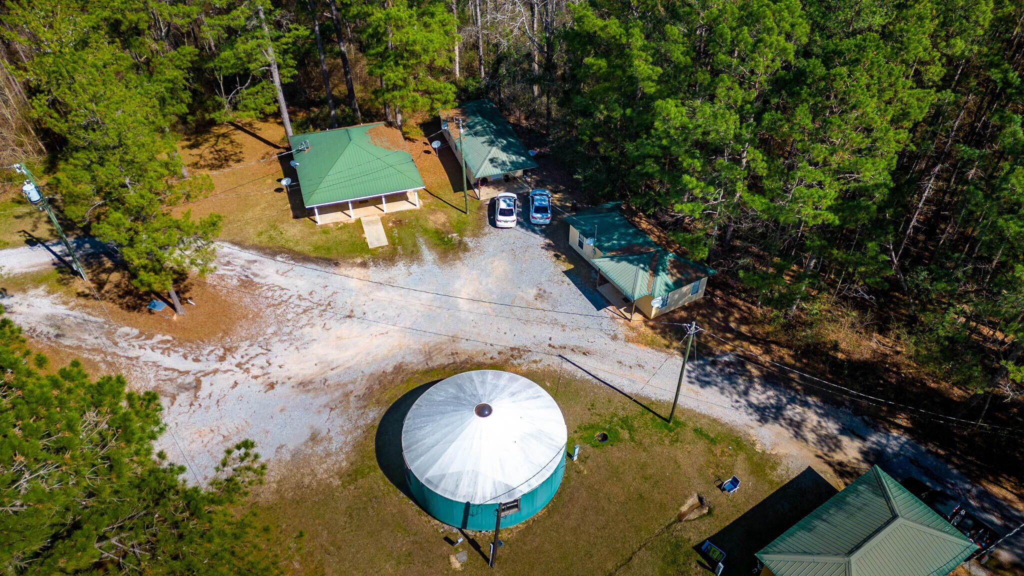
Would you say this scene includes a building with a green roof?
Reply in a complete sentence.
Yes, there's a building with a green roof here.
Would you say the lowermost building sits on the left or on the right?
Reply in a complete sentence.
It is on the right.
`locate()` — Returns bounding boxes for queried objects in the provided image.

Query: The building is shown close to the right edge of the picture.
[754,463,980,576]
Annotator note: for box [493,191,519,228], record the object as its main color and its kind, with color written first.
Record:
white car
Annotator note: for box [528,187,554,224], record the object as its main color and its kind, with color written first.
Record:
blue car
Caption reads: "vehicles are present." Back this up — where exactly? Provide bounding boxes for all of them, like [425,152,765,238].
[904,480,1024,576]
[493,191,519,228]
[528,187,554,224]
